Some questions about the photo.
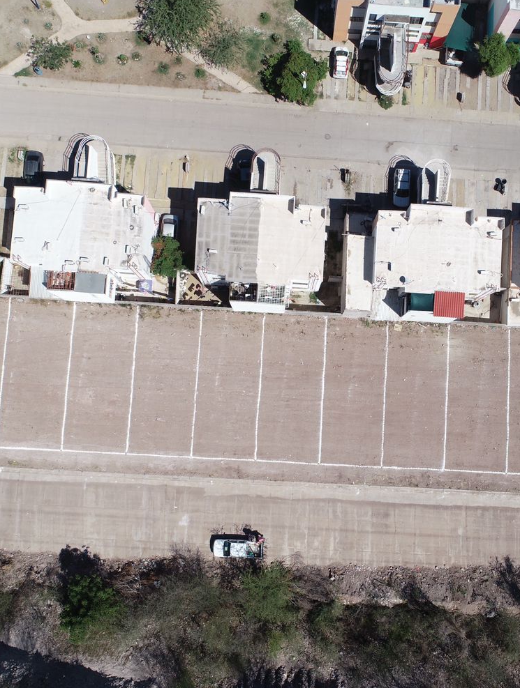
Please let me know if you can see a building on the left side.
Yes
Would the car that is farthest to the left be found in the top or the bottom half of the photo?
top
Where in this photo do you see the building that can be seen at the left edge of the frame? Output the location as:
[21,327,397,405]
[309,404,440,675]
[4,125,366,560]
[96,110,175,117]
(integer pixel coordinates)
[11,136,161,304]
